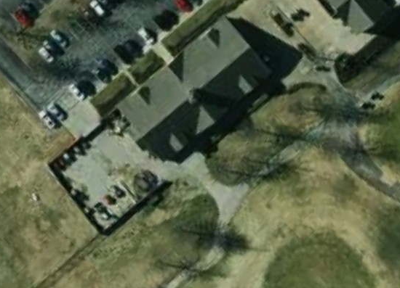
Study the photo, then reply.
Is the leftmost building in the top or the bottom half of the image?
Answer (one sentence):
The top half of the photo is where the leftmost building is.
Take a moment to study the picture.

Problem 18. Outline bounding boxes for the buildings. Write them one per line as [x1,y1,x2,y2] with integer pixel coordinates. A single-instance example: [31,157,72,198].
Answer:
[110,15,273,167]
[318,0,400,36]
